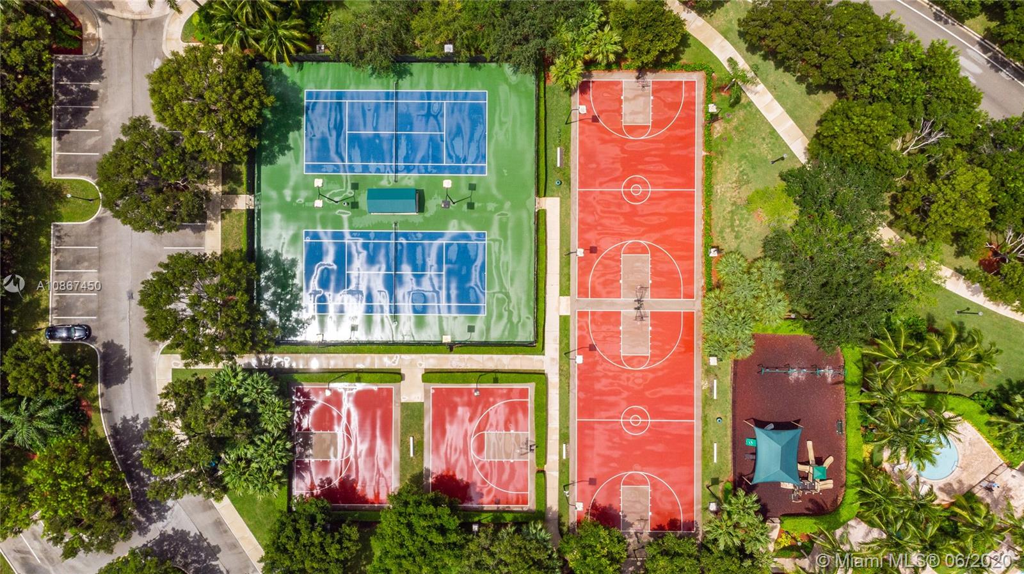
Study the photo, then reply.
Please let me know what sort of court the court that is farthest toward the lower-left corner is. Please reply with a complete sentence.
It turns out the court that is farthest toward the lower-left corner is a basketball court.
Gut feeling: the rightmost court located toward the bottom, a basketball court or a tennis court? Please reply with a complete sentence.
In the photo, the rightmost court located toward the bottom shows up as a basketball court.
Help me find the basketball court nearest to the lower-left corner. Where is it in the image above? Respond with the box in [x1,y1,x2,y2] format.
[293,383,401,507]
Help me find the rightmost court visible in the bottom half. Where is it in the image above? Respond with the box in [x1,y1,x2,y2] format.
[567,304,702,539]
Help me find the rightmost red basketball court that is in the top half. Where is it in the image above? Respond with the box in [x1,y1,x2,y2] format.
[568,72,702,305]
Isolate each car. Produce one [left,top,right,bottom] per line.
[46,324,88,342]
